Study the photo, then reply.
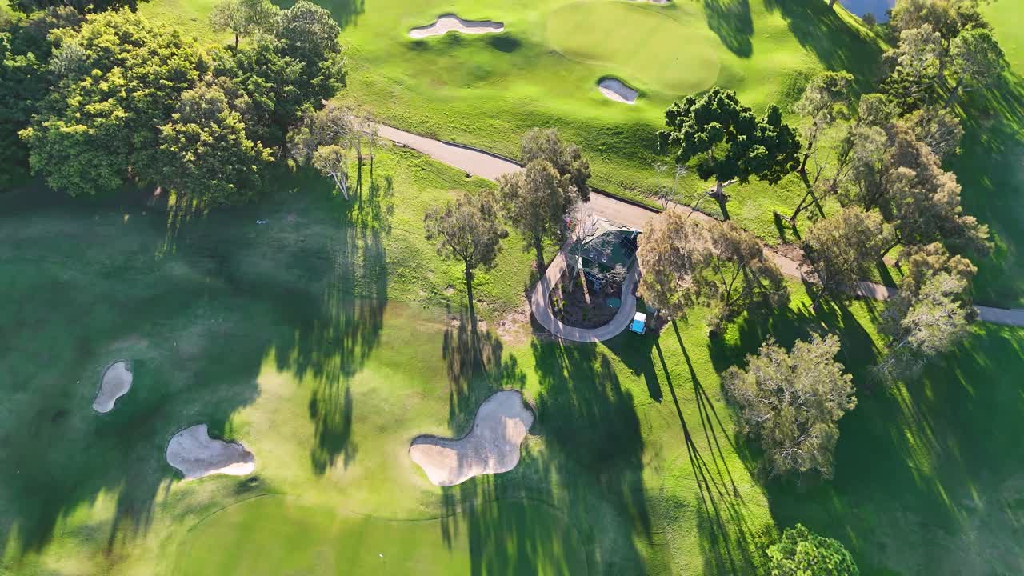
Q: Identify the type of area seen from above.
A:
golf course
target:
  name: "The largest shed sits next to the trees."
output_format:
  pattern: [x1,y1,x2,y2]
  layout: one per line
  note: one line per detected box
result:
[563,216,642,282]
